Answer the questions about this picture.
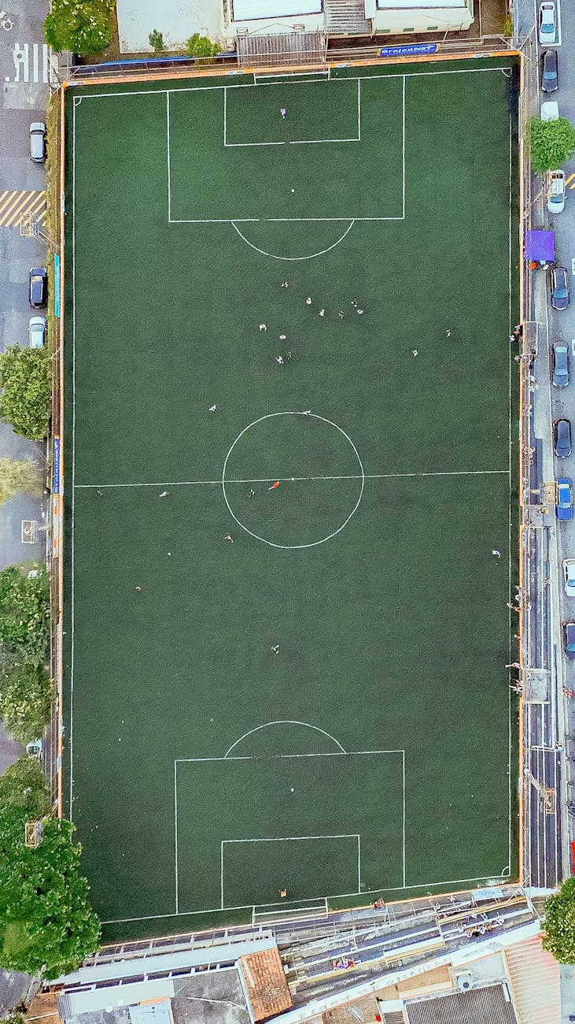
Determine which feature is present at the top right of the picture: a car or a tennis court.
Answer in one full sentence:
You can see a car at the top right of the picture.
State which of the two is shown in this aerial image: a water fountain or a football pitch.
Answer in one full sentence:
There is a football pitch in the scene.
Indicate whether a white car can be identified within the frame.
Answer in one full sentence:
Yes, the frame does contain a white car.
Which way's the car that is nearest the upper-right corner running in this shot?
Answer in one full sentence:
In this picture, the car that is nearest the upper-right corner lies from top to bottom.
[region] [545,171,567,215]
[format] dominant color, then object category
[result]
white car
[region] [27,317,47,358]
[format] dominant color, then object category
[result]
white car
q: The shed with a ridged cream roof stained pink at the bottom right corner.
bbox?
[503,931,561,1024]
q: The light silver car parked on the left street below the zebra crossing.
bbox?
[28,124,47,166]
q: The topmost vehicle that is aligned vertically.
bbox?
[538,2,558,46]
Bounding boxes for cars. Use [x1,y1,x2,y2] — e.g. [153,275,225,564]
[27,317,47,358]
[562,620,575,660]
[28,124,47,166]
[568,838,575,875]
[552,419,573,459]
[540,101,561,130]
[561,558,575,597]
[538,2,558,46]
[550,342,571,388]
[27,268,47,310]
[539,50,560,94]
[24,733,44,769]
[549,267,571,311]
[545,171,567,215]
[554,478,575,521]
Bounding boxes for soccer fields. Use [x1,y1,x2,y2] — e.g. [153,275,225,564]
[60,57,521,948]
